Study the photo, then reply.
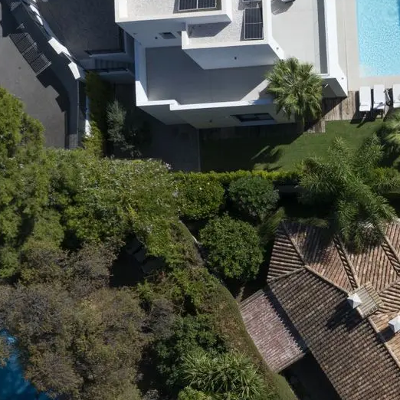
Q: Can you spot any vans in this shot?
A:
No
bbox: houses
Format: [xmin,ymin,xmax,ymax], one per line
[114,0,350,128]
[266,217,400,400]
